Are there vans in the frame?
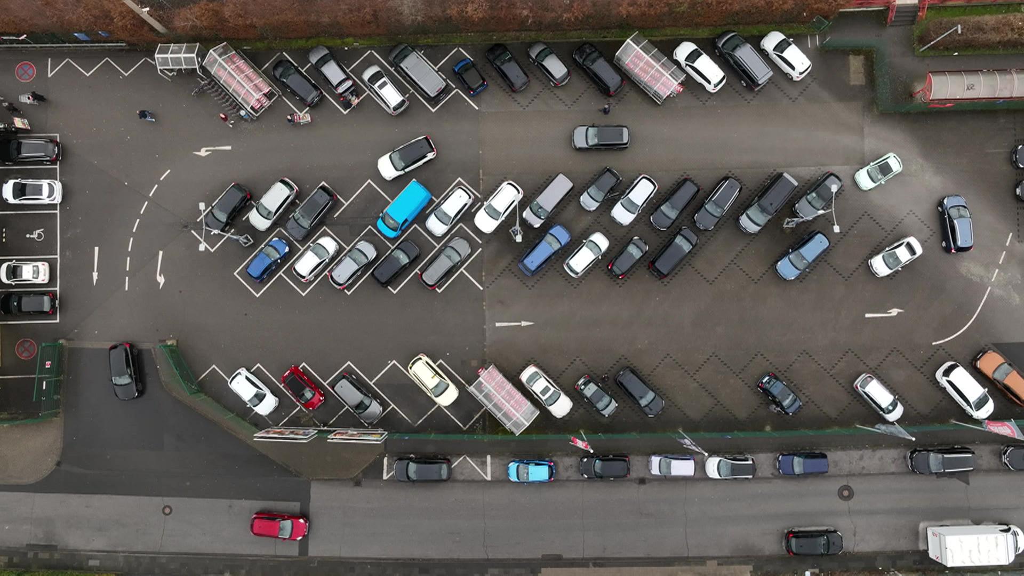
Yes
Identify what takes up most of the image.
paved ground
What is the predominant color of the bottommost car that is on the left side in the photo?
red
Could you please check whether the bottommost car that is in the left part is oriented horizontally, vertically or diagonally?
horizontally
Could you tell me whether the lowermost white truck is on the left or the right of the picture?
right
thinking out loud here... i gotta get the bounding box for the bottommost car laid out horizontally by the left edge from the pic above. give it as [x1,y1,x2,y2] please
[0,292,60,320]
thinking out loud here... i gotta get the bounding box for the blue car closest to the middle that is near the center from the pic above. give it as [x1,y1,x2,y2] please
[519,225,568,277]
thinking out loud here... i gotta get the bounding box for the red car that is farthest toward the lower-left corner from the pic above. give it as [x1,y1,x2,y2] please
[250,511,310,543]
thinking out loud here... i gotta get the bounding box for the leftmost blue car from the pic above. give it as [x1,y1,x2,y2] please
[246,238,291,282]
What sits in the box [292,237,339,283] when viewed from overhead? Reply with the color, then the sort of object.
white car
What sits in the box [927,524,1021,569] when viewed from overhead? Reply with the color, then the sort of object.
white truck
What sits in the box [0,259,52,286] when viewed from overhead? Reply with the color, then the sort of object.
white car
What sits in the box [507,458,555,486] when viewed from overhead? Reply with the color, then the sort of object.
blue car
